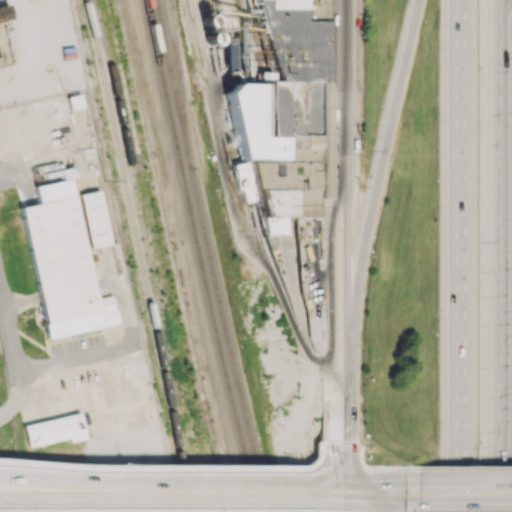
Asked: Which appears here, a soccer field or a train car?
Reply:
train car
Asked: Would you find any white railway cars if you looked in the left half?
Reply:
Yes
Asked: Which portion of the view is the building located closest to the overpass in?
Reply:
bottom left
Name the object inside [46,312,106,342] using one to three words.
building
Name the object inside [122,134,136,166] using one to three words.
rail car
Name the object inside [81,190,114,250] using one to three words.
shed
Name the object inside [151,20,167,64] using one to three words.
rail car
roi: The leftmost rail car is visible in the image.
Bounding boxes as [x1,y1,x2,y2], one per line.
[82,0,98,42]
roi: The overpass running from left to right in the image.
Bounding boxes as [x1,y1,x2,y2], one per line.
[0,447,512,512]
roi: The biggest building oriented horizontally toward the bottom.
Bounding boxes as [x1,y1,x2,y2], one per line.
[24,413,89,449]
